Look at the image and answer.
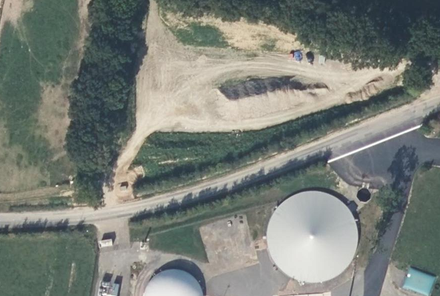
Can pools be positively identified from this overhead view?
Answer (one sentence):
No, no pool can be seen from above.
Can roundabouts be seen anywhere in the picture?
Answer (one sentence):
No, this view has no roundabout in it.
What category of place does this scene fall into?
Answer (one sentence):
What you see here is an industrial area.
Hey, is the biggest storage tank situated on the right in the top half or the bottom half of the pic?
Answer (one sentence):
The biggest storage tank situated on the right is in the bottom half of the image.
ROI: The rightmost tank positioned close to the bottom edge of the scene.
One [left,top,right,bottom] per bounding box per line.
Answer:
[264,190,359,284]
